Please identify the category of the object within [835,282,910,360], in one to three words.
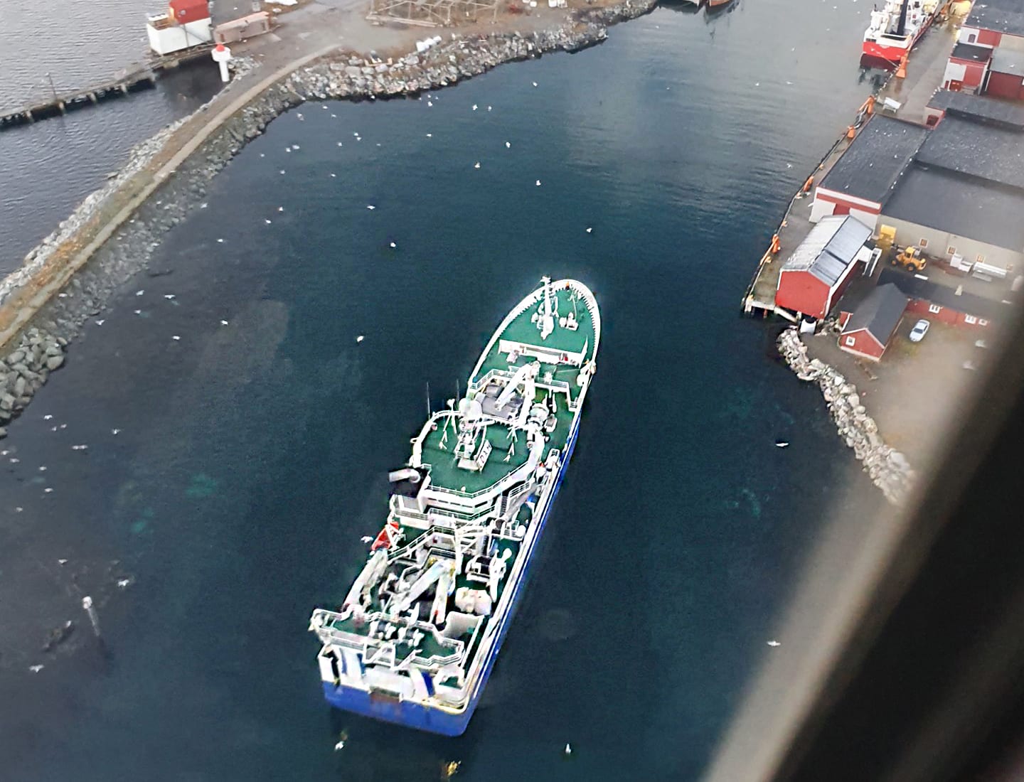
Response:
house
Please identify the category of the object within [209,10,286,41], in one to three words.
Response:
shed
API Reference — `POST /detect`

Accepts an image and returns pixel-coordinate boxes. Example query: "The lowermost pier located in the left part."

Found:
[0,65,153,130]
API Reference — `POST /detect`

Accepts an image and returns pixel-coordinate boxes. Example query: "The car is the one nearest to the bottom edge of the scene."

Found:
[907,318,933,340]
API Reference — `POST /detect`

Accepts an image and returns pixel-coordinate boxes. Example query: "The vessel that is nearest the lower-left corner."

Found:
[308,267,597,740]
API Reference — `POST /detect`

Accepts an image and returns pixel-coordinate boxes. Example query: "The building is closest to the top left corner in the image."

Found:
[135,0,213,55]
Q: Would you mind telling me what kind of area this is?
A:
port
